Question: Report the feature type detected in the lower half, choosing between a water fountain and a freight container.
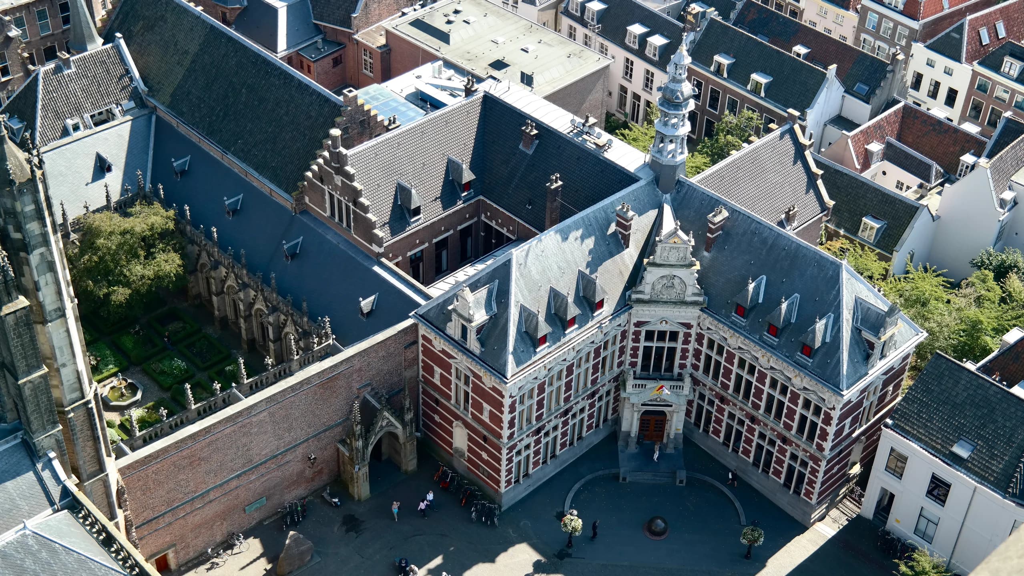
water fountain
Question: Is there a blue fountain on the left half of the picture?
No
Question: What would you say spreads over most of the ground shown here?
buildings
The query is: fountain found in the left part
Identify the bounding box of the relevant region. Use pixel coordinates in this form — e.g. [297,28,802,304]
[104,374,146,413]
